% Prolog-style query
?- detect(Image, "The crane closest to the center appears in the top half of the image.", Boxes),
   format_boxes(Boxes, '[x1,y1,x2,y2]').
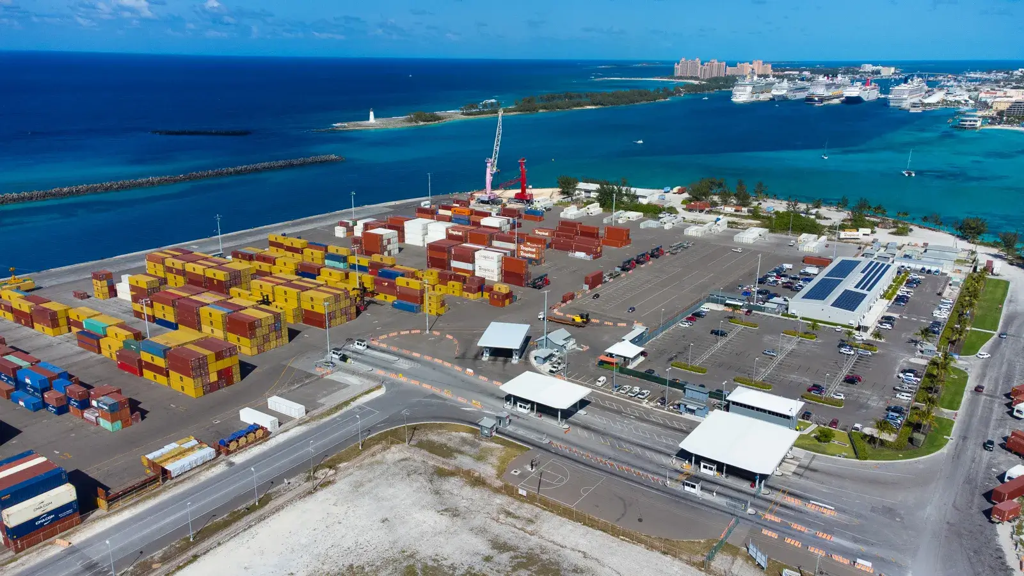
[498,156,538,203]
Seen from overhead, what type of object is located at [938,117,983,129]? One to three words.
house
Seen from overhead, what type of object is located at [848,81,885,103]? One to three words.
ship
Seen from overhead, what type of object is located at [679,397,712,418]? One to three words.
shed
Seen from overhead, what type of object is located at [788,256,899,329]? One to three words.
building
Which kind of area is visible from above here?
port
